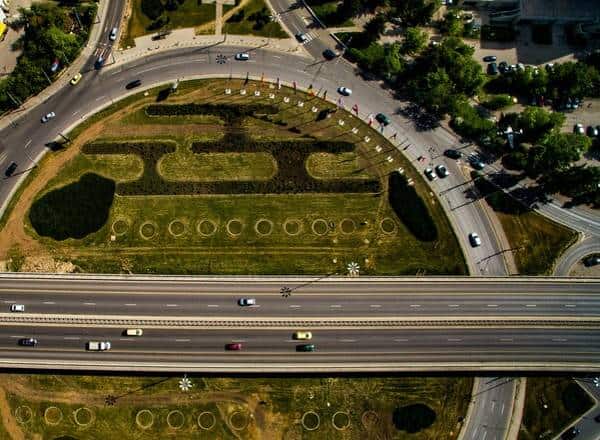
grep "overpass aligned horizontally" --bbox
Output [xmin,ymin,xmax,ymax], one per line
[0,273,600,373]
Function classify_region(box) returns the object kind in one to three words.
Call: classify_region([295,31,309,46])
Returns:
car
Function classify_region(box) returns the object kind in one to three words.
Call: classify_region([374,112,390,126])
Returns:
vehicle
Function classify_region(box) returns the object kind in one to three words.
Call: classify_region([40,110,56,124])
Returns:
vehicle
